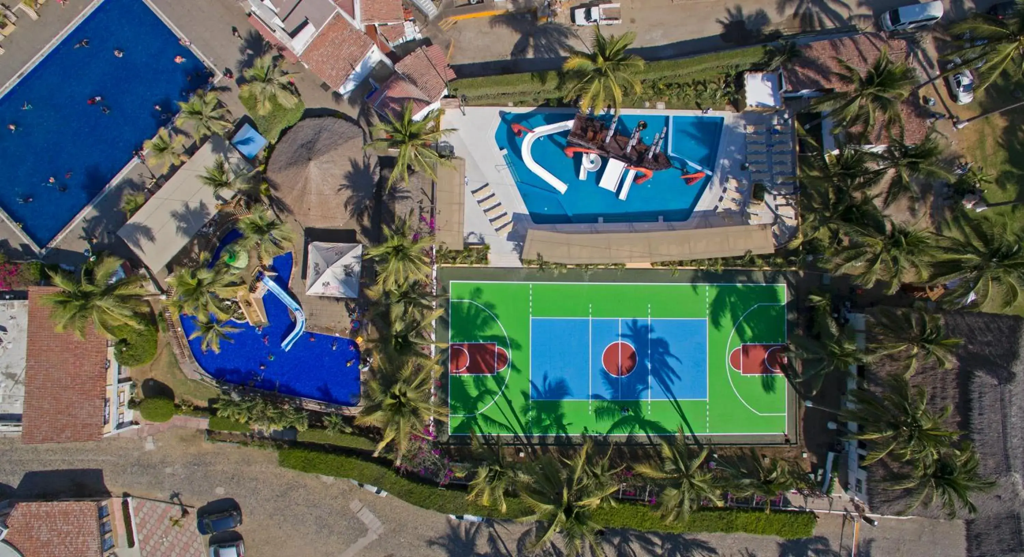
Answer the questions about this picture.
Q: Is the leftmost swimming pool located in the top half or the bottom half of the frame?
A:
top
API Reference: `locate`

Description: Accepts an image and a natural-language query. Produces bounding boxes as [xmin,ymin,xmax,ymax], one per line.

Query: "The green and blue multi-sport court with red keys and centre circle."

[435,267,797,445]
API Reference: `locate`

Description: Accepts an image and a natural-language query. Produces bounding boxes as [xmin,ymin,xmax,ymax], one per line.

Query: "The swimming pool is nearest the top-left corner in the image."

[0,0,222,258]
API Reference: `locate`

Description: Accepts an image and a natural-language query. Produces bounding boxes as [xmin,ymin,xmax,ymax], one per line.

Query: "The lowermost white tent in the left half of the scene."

[306,243,363,297]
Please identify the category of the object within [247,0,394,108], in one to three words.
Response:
house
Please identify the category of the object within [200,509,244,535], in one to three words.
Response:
car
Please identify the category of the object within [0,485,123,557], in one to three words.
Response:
house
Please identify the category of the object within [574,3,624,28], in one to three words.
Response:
truck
